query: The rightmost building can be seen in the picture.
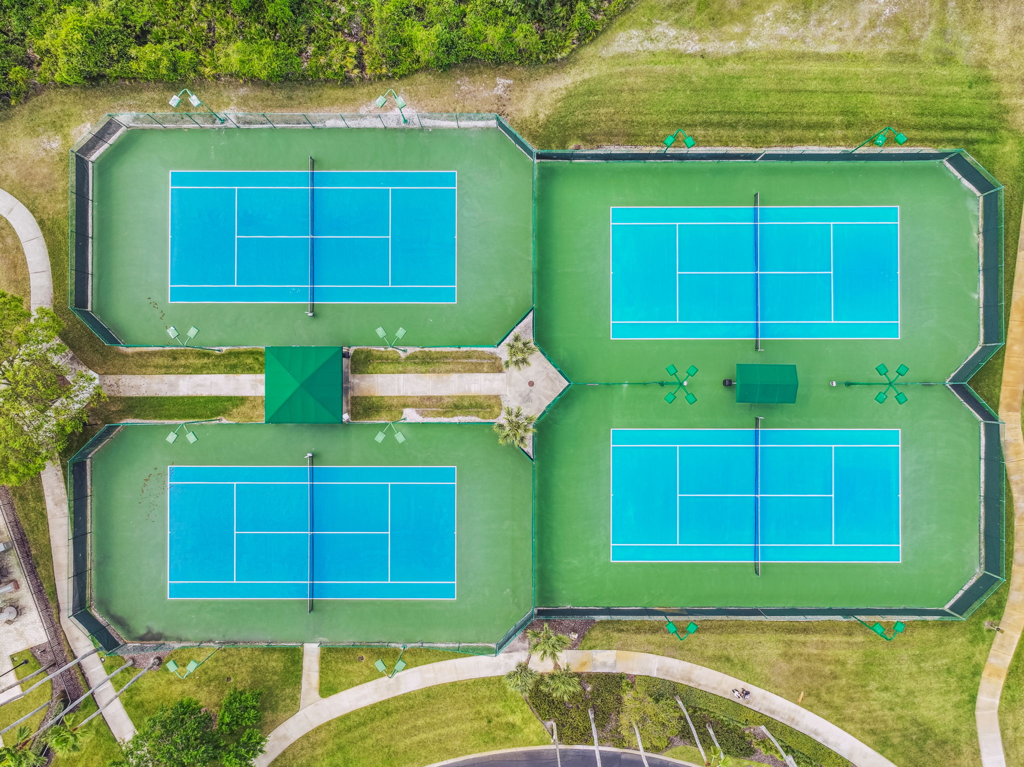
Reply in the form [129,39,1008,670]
[265,346,348,424]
